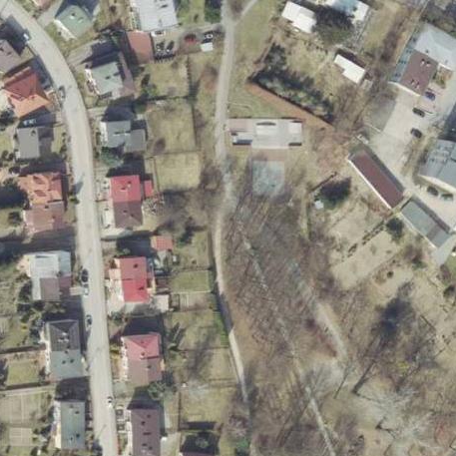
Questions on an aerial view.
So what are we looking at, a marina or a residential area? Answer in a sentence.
This looks like a residential area.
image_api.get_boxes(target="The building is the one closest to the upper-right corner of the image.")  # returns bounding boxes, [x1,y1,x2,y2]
[408,23,456,71]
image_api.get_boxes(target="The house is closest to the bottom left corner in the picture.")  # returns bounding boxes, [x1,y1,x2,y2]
[52,400,85,449]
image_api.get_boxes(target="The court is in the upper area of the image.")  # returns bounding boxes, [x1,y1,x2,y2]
[251,160,286,198]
